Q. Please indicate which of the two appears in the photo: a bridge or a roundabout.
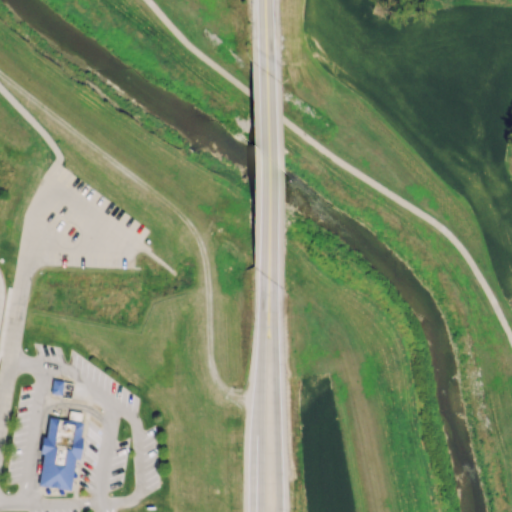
bridge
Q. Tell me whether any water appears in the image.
Yes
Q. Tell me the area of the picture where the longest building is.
bottom left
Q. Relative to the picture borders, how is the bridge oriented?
vertically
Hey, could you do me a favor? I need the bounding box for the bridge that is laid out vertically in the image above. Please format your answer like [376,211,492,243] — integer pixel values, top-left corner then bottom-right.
[246,62,286,289]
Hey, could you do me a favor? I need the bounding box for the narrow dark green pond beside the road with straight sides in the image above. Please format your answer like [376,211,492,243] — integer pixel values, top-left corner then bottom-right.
[301,376,356,512]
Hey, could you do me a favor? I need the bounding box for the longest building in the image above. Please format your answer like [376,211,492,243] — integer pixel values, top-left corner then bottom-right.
[40,410,88,491]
